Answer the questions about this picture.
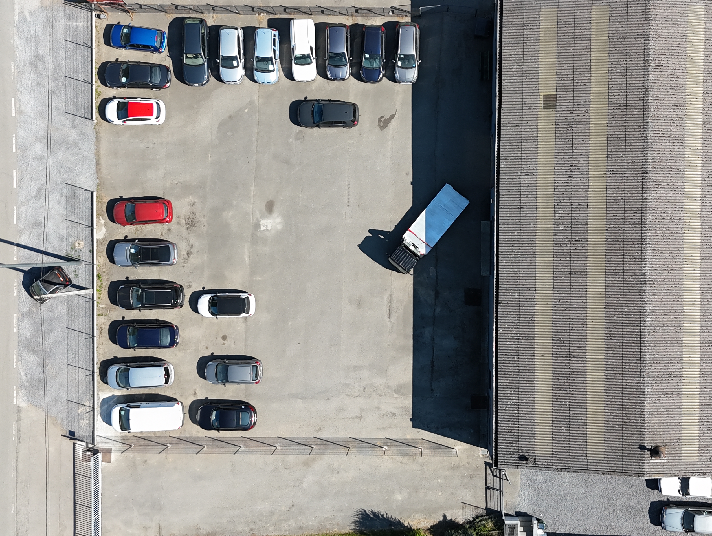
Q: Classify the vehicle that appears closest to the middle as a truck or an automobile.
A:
truck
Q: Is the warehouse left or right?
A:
right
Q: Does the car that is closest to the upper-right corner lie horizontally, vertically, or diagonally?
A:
vertically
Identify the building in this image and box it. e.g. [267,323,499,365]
[490,0,712,481]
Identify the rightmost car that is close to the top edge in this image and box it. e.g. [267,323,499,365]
[391,23,422,85]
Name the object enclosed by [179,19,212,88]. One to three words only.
car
